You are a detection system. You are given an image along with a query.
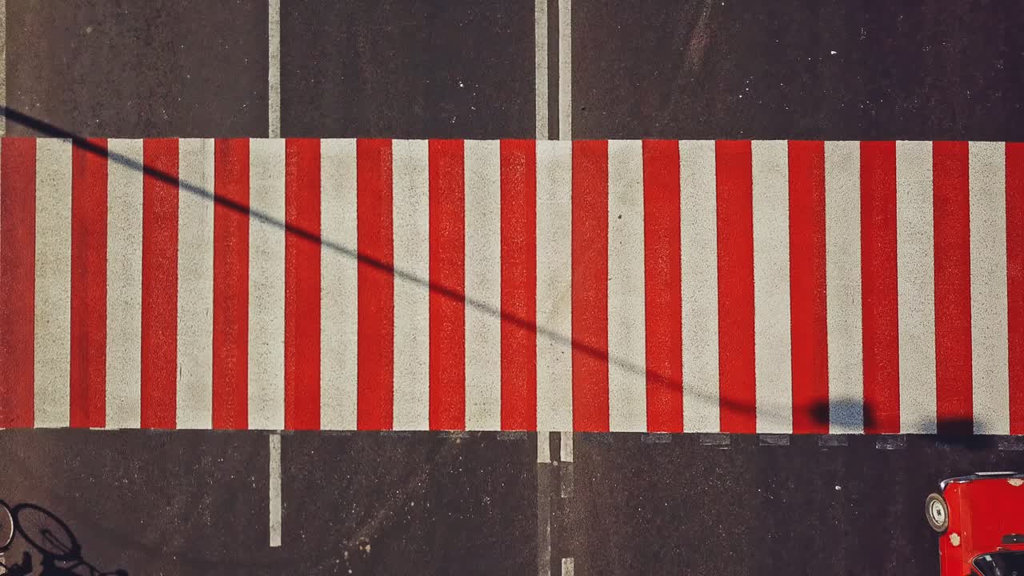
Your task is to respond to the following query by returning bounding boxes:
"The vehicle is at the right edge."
[925,471,1024,576]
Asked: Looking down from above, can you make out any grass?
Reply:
No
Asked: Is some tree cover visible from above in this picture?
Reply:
No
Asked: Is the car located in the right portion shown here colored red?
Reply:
Yes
